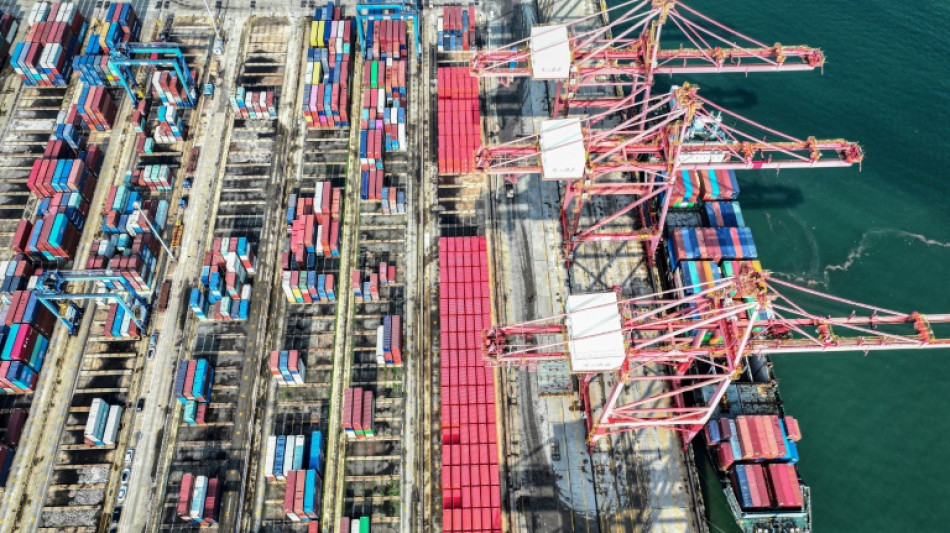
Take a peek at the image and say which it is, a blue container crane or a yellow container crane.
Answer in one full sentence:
Looking from above, you can make out a blue container crane.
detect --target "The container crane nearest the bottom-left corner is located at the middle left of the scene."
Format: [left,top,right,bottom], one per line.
[31,270,151,339]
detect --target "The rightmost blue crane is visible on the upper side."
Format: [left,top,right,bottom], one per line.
[354,0,419,65]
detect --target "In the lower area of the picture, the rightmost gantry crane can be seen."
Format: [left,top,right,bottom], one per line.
[486,271,950,449]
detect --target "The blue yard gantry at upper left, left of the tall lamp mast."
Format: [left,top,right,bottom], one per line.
[107,43,198,110]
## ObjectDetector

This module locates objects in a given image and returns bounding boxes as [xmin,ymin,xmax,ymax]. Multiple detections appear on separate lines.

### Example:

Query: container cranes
[486,271,950,449]
[31,270,151,339]
[476,77,873,264]
[107,43,198,110]
[354,0,419,65]
[470,0,832,169]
